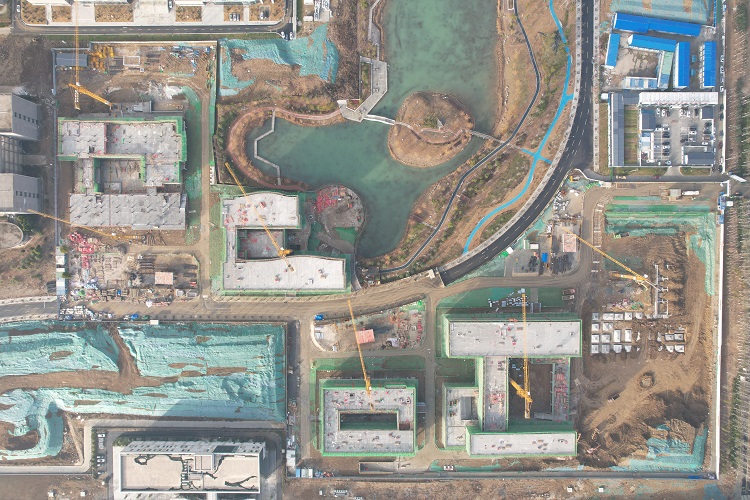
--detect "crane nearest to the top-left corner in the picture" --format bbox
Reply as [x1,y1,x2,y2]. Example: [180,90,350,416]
[67,0,115,109]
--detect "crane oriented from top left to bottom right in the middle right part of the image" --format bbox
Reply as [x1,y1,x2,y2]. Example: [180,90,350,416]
[578,235,662,291]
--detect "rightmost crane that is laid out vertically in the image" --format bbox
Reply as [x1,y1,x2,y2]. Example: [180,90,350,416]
[508,291,536,425]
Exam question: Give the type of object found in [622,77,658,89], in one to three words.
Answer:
building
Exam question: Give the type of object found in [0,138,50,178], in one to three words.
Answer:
building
